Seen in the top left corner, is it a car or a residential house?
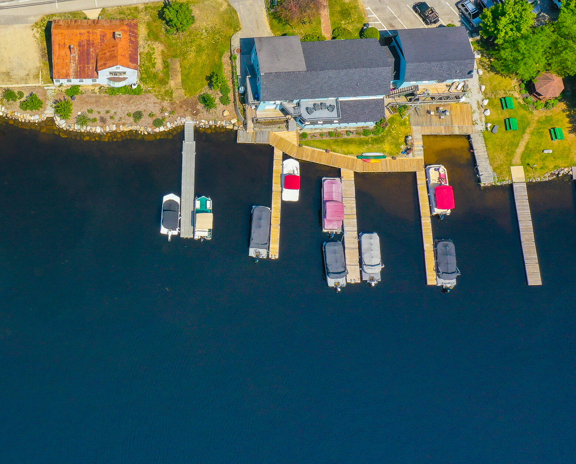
residential house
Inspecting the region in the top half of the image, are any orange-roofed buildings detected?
Yes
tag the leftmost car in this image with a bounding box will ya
[409,0,437,25]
